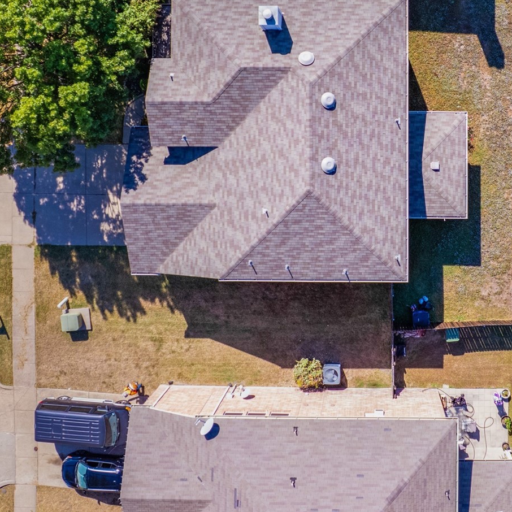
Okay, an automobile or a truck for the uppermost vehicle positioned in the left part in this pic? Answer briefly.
automobile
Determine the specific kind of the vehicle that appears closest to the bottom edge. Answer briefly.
car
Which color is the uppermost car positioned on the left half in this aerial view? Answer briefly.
blue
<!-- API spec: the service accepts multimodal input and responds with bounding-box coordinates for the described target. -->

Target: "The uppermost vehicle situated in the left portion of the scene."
[40,397,132,446]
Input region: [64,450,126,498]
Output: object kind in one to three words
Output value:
car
